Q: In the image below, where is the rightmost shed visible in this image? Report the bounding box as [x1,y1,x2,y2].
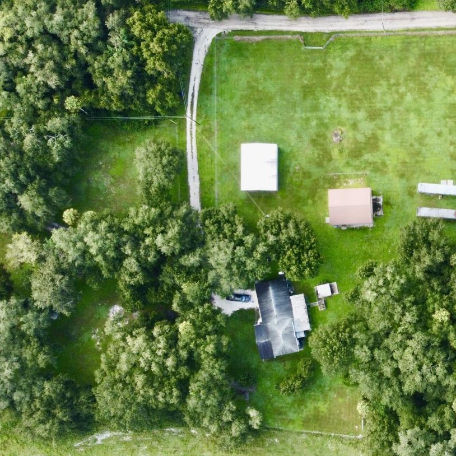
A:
[329,188,376,229]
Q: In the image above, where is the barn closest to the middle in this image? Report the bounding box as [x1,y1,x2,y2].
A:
[241,143,282,192]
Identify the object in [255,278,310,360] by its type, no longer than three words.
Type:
house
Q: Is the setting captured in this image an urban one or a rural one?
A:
rural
